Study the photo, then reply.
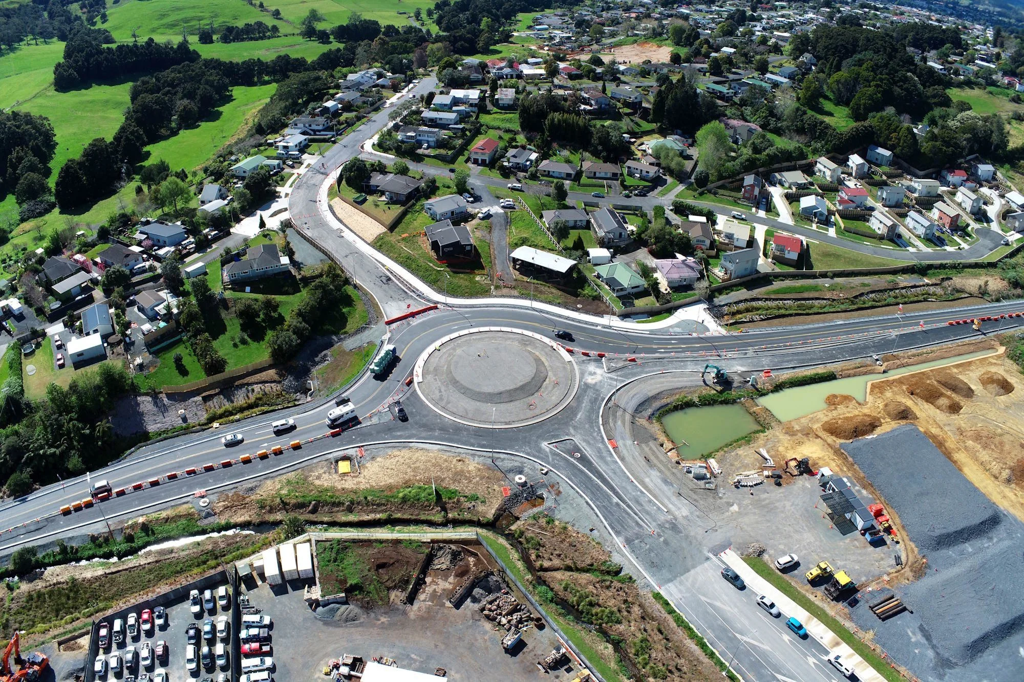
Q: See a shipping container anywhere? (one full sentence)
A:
Yes, the photo shows a shipping container.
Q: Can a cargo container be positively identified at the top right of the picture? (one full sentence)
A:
No, the scene shows no cargo container at the top right of the picture.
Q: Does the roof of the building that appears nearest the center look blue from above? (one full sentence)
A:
No, the color of the roof of the building that appears nearest the center is white.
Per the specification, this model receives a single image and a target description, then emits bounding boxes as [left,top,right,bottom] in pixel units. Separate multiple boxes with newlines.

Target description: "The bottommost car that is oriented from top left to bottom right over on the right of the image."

[824,650,858,680]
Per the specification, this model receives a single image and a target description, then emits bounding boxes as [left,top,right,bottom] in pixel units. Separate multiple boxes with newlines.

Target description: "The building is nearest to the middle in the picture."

[512,247,577,286]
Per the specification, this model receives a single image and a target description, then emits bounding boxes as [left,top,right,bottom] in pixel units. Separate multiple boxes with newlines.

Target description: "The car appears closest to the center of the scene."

[554,328,573,340]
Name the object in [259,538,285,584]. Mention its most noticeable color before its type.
white shipping container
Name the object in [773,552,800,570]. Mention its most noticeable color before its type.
white car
